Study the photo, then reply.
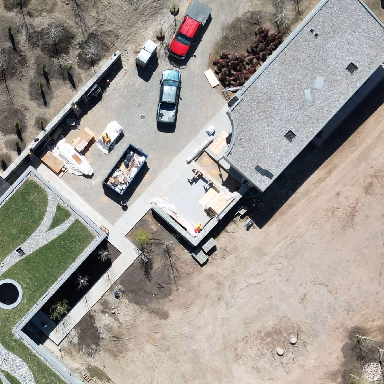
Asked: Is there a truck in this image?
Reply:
Yes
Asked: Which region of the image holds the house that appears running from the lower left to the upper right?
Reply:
top right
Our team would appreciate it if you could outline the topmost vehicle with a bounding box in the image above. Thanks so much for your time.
[168,0,211,62]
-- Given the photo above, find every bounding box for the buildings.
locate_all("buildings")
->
[221,0,384,192]
[0,166,105,384]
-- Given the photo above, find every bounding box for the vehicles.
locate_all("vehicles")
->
[168,0,211,62]
[156,67,183,127]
